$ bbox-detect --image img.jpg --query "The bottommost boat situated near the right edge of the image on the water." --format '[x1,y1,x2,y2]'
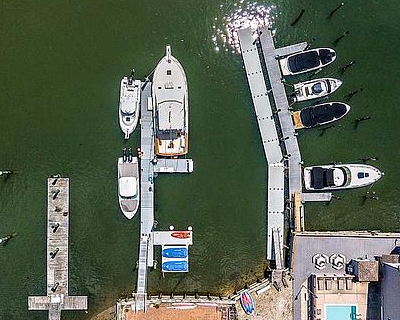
[302,164,385,190]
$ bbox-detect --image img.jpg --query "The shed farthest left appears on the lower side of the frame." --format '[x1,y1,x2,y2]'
[352,258,379,281]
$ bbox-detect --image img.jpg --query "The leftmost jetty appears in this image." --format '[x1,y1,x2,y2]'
[29,178,88,320]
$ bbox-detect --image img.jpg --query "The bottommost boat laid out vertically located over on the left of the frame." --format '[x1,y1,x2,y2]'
[119,151,140,219]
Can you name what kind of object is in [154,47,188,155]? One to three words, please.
boat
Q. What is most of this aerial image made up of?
water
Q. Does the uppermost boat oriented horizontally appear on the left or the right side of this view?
right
